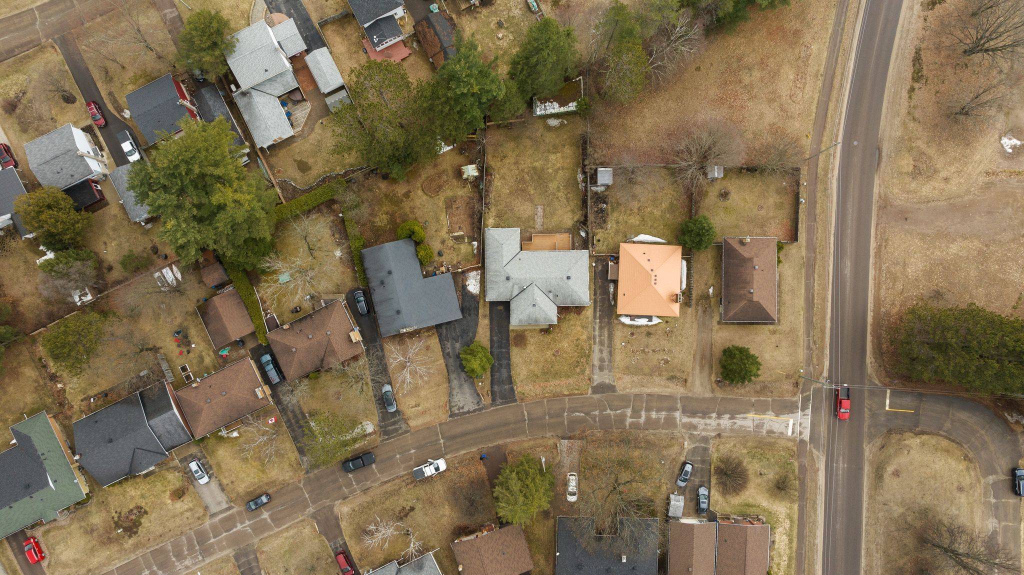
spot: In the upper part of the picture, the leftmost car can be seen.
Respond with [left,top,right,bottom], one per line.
[0,142,20,168]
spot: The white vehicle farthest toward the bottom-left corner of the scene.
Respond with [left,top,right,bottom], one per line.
[188,457,211,486]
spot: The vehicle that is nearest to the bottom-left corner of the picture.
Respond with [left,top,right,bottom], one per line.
[25,536,45,564]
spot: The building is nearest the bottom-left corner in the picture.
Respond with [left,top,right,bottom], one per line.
[0,410,93,540]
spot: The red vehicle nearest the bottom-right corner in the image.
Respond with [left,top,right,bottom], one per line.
[834,385,852,421]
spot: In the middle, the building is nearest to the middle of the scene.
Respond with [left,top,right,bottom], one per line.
[484,228,590,325]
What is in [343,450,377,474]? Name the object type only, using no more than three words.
truck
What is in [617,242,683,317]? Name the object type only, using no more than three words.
house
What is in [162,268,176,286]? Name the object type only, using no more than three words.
boat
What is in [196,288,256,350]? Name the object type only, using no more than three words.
building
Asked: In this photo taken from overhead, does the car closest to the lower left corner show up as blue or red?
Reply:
red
